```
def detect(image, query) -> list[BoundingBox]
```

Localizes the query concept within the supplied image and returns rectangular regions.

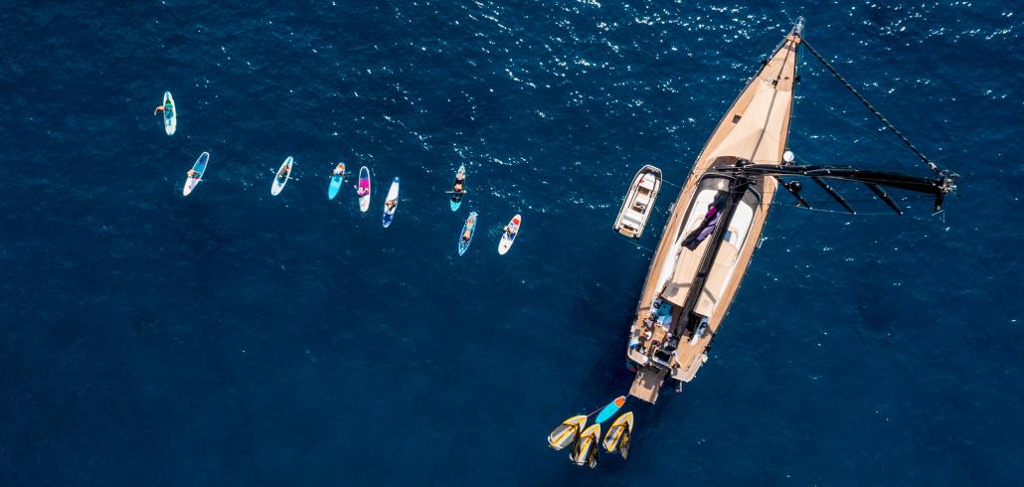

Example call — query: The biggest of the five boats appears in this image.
[627,15,977,403]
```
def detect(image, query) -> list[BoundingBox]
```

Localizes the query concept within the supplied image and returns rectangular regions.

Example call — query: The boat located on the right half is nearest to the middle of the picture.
[614,164,662,240]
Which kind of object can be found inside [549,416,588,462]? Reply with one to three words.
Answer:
boat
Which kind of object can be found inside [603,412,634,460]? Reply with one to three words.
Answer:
boat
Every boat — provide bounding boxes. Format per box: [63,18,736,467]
[614,164,662,240]
[627,15,977,403]
[549,416,588,462]
[603,412,634,460]
[572,424,601,472]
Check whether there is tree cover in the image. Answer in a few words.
No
